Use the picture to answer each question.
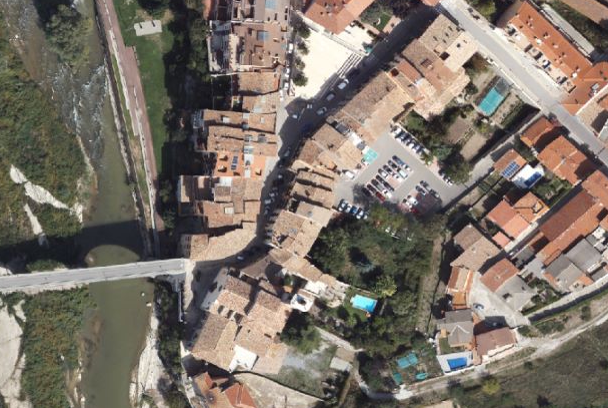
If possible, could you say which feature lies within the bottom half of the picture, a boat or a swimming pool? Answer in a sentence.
Visible within the bottom half of the picture is a swimming pool.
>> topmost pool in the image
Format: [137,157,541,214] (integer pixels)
[478,82,509,116]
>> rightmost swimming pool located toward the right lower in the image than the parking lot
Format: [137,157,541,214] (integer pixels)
[438,351,474,373]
